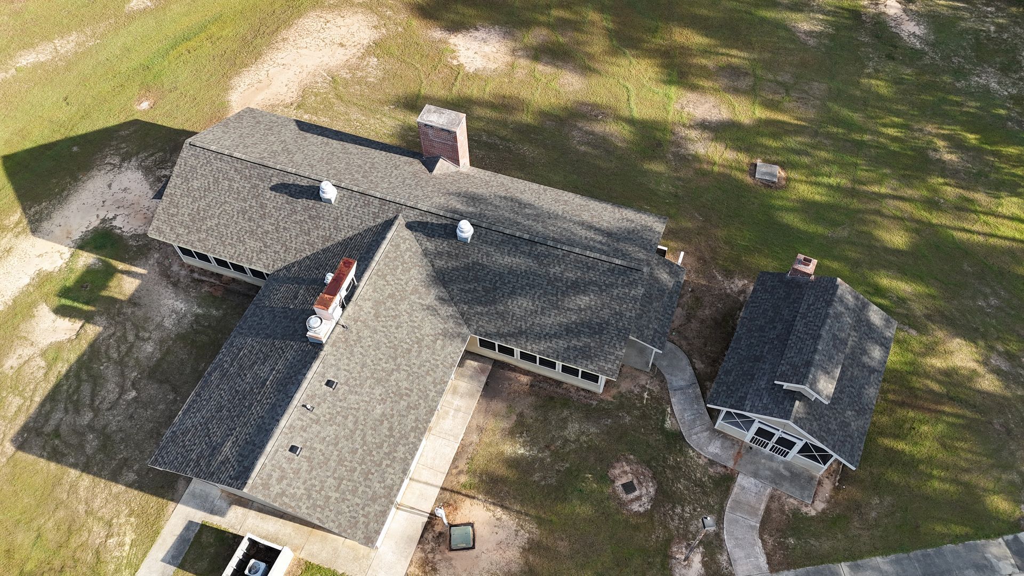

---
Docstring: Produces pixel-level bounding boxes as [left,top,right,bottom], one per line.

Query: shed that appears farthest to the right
[705,253,896,474]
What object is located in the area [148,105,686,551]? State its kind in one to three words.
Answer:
house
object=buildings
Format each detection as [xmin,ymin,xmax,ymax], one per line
[148,105,686,551]
[705,253,896,474]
